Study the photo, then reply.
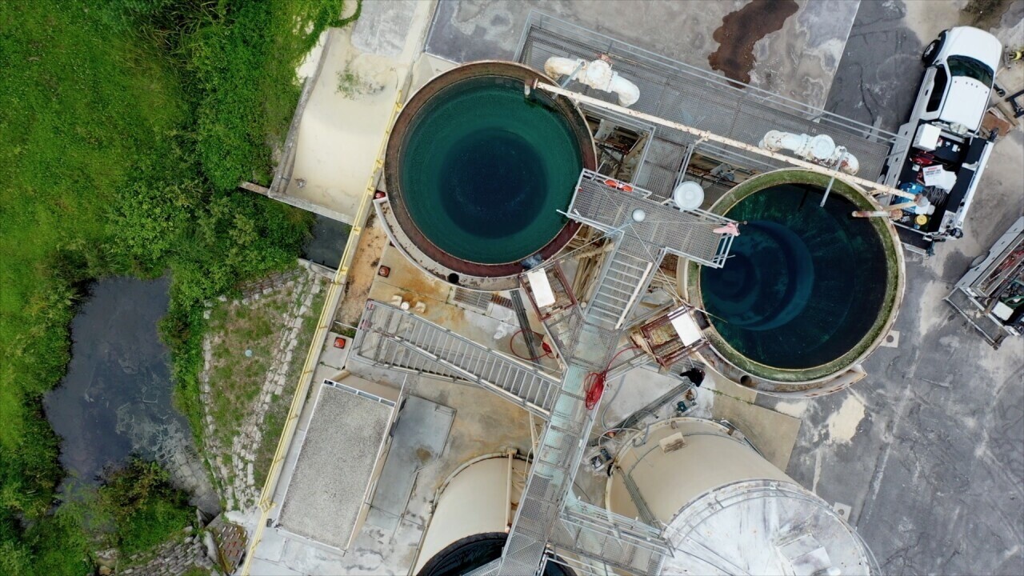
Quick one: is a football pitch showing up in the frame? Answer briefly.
No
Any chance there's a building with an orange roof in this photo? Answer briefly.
No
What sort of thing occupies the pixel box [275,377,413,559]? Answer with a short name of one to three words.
building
